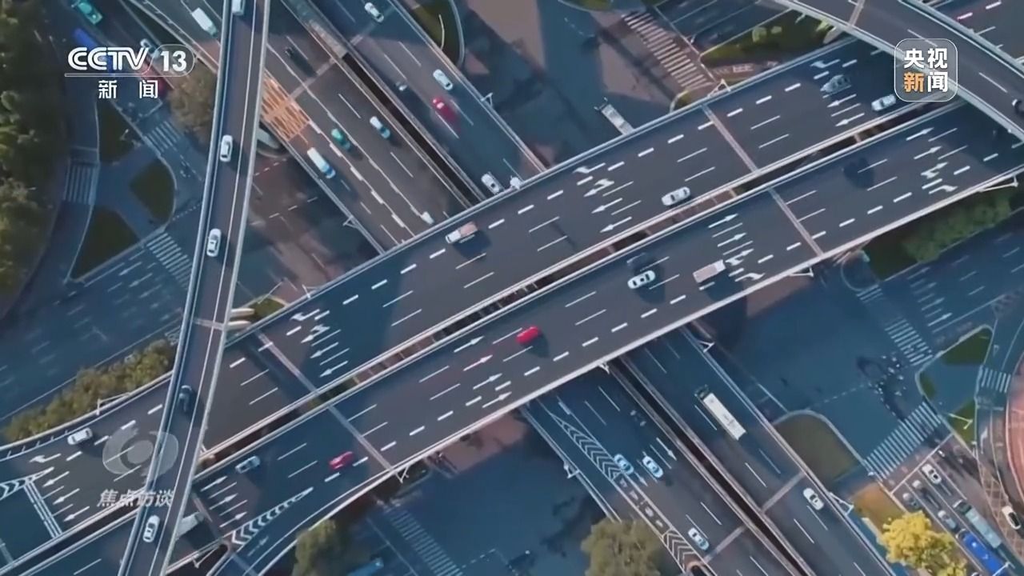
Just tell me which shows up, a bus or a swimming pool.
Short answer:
bus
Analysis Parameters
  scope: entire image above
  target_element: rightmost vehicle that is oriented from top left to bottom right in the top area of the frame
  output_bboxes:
[598,94,637,136]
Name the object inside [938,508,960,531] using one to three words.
car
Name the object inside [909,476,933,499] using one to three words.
car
